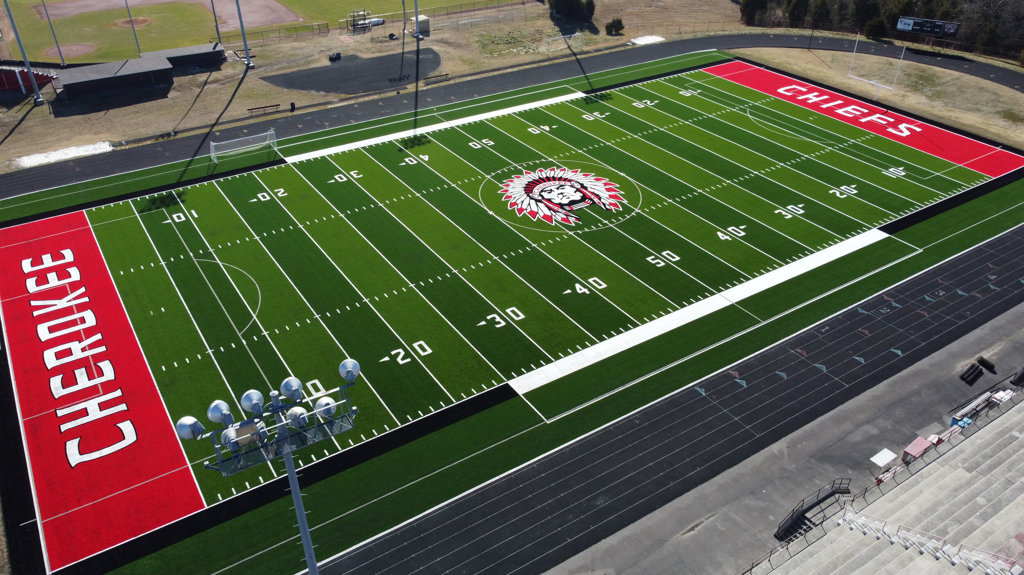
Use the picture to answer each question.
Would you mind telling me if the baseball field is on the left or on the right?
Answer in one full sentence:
The baseball field is on the left side of the image.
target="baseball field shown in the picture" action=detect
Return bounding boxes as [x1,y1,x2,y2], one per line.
[0,0,543,62]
